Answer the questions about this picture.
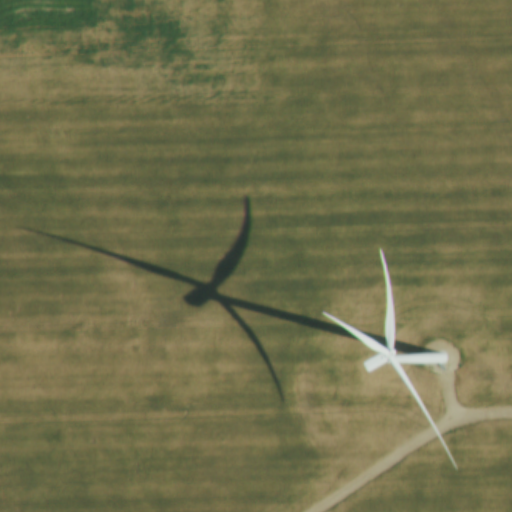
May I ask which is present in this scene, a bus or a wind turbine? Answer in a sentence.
It is a wind turbine that can be seen here.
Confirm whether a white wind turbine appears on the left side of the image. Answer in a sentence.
No, there is no white wind turbine on the left side of the image.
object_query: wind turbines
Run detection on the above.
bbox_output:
[323,246,457,466]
